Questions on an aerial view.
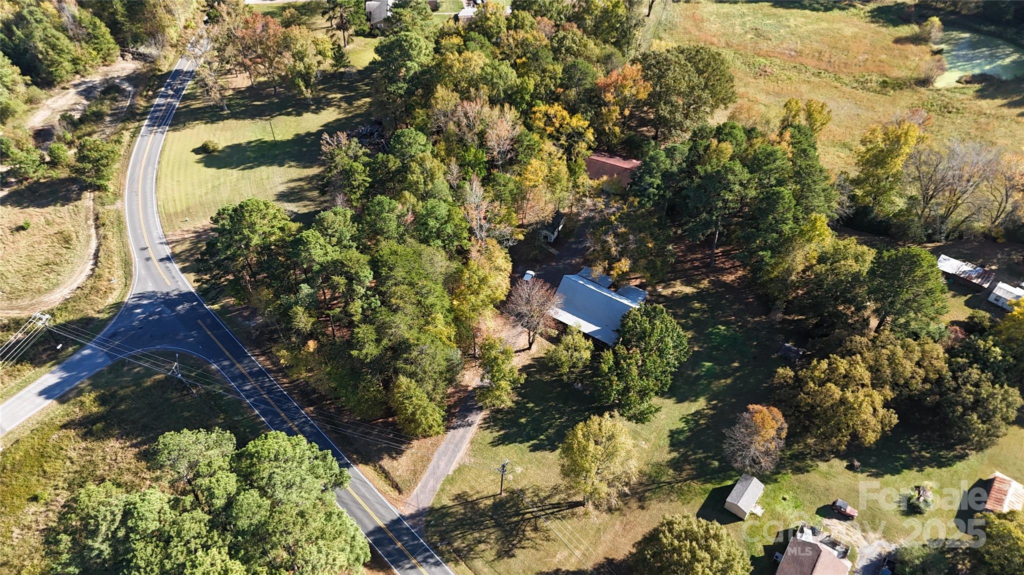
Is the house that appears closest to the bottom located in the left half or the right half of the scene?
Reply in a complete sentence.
The house that appears closest to the bottom sits on the right side.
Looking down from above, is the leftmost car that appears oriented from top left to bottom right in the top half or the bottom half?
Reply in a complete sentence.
Seen from above, the leftmost car that appears oriented from top left to bottom right lies in the bottom half of the view.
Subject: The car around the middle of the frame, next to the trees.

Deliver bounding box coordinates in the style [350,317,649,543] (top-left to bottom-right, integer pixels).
[522,272,534,290]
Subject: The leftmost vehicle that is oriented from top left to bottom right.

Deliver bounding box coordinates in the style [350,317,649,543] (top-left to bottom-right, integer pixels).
[833,500,860,522]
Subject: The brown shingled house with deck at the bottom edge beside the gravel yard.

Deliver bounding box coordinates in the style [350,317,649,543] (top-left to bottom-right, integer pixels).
[766,534,843,575]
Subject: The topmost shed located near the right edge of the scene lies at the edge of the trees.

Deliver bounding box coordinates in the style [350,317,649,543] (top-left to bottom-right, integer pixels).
[937,255,995,295]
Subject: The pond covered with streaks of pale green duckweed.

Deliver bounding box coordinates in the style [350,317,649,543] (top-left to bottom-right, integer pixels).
[932,28,1024,94]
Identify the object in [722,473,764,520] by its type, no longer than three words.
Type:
shed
